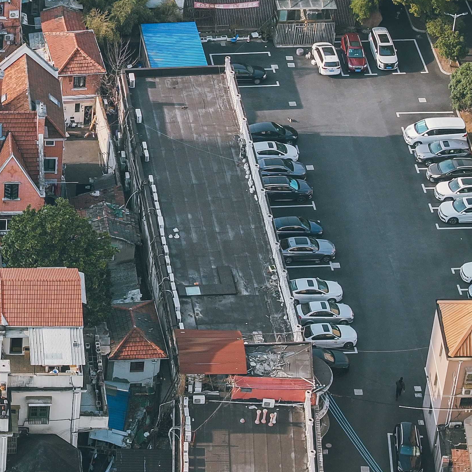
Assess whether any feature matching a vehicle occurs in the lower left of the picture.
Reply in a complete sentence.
No, looking in the lower left of the picture, there is no vehicle.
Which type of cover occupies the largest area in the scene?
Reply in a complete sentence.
Most of the picture is covered by buildings.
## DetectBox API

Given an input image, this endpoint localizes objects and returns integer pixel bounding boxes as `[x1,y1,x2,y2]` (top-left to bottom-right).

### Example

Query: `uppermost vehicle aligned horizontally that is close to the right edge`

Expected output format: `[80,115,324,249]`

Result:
[404,118,466,146]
